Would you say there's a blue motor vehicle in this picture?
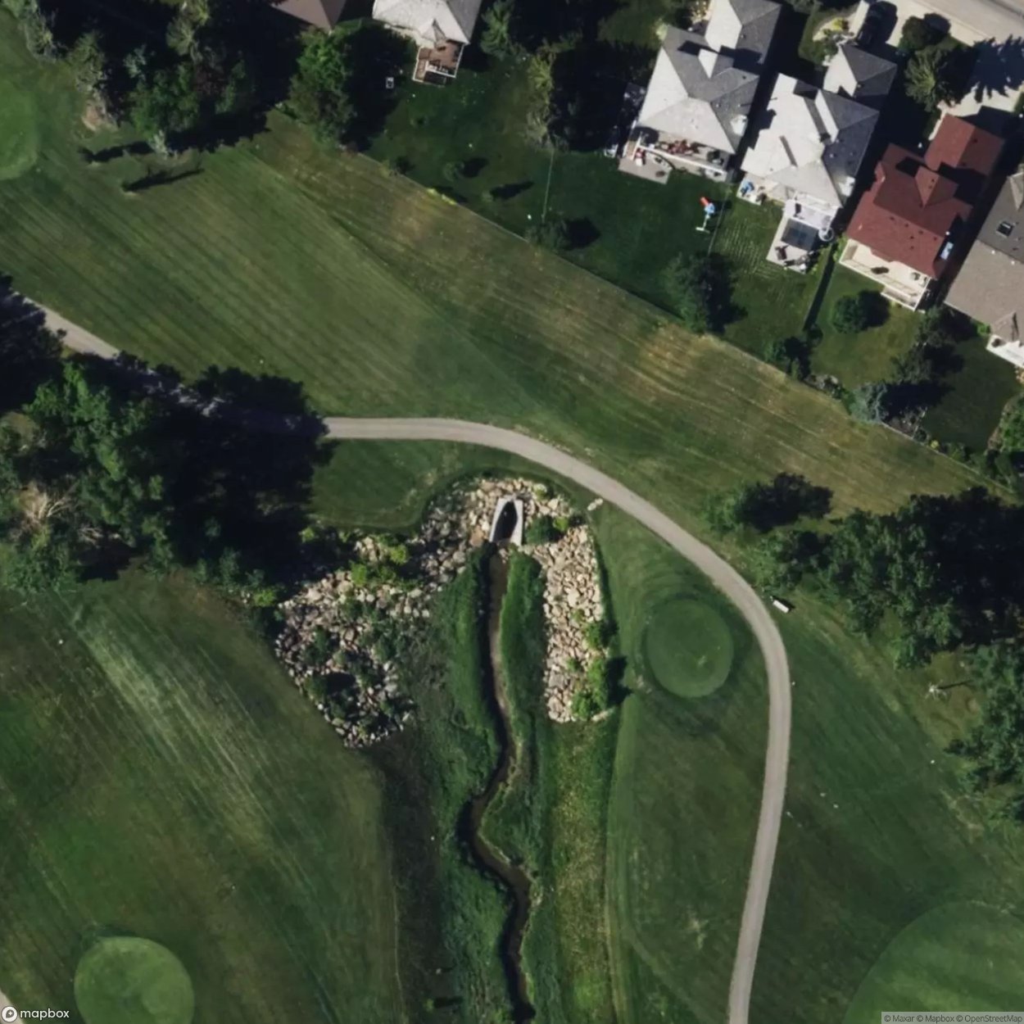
No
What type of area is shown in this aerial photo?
golf course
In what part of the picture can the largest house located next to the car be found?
top right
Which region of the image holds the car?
top right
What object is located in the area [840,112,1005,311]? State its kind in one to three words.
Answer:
house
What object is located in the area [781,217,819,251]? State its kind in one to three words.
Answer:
gazebo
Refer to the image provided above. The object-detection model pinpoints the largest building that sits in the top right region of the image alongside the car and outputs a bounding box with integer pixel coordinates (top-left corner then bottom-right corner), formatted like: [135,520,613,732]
[741,42,898,232]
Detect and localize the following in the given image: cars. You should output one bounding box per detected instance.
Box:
[858,1,884,42]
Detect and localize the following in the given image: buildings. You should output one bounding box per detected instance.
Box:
[268,0,343,29]
[624,0,782,173]
[372,0,480,82]
[840,112,1005,311]
[946,167,1024,367]
[741,42,898,232]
